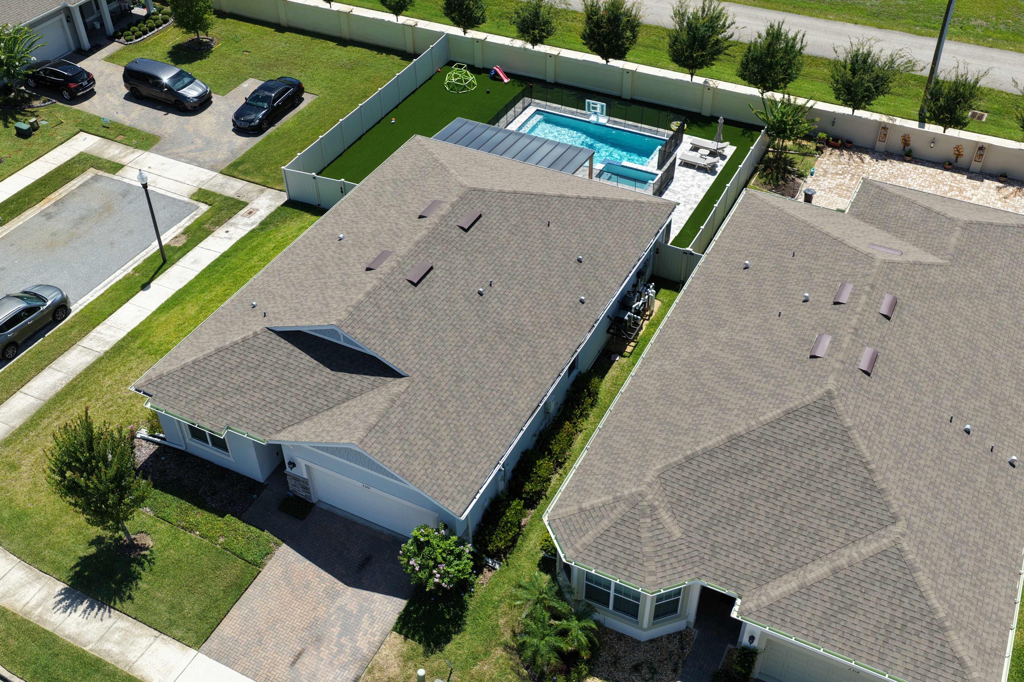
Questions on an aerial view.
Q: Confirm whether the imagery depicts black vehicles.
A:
Yes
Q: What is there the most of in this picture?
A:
buildings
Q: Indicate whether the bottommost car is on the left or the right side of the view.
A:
left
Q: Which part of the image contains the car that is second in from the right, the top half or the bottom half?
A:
top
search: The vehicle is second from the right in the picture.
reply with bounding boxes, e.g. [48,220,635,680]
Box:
[122,57,213,111]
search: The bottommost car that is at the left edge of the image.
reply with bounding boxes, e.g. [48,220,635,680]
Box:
[0,283,70,360]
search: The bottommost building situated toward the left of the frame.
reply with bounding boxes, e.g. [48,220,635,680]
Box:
[130,135,679,578]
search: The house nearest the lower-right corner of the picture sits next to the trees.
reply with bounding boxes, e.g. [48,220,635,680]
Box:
[543,178,1024,682]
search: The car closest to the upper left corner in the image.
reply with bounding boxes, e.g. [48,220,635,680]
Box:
[22,58,99,98]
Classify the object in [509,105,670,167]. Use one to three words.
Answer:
swimming pool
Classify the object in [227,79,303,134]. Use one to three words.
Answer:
car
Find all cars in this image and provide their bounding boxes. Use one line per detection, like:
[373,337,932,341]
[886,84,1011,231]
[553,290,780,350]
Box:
[0,283,70,360]
[122,57,213,111]
[227,79,303,134]
[22,58,99,98]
